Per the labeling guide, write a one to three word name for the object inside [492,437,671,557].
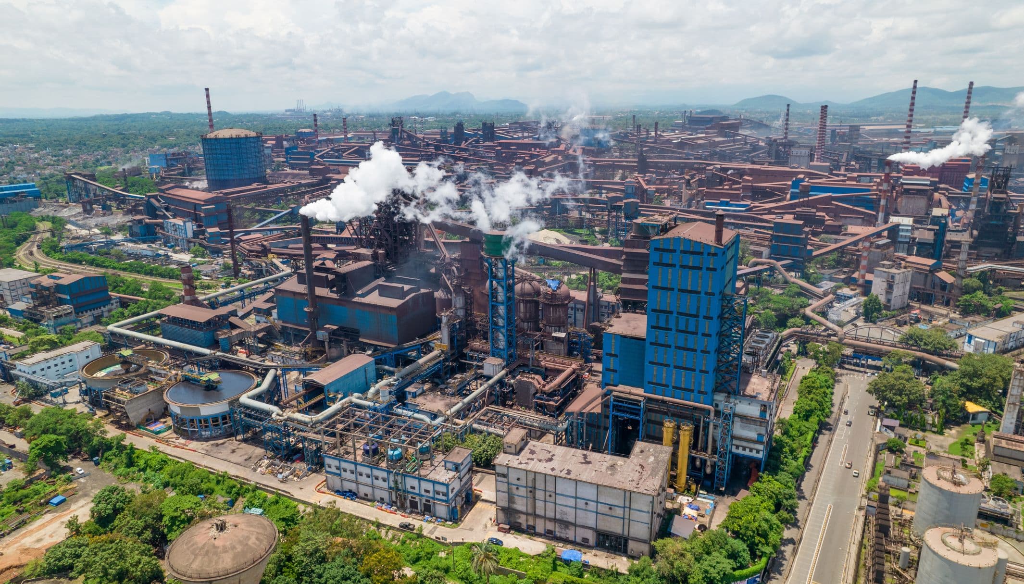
building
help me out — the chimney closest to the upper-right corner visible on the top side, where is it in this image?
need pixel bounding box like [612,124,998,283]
[959,82,974,144]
